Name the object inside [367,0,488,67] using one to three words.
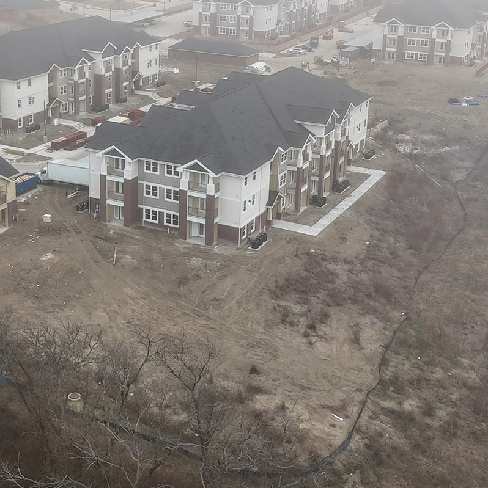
building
